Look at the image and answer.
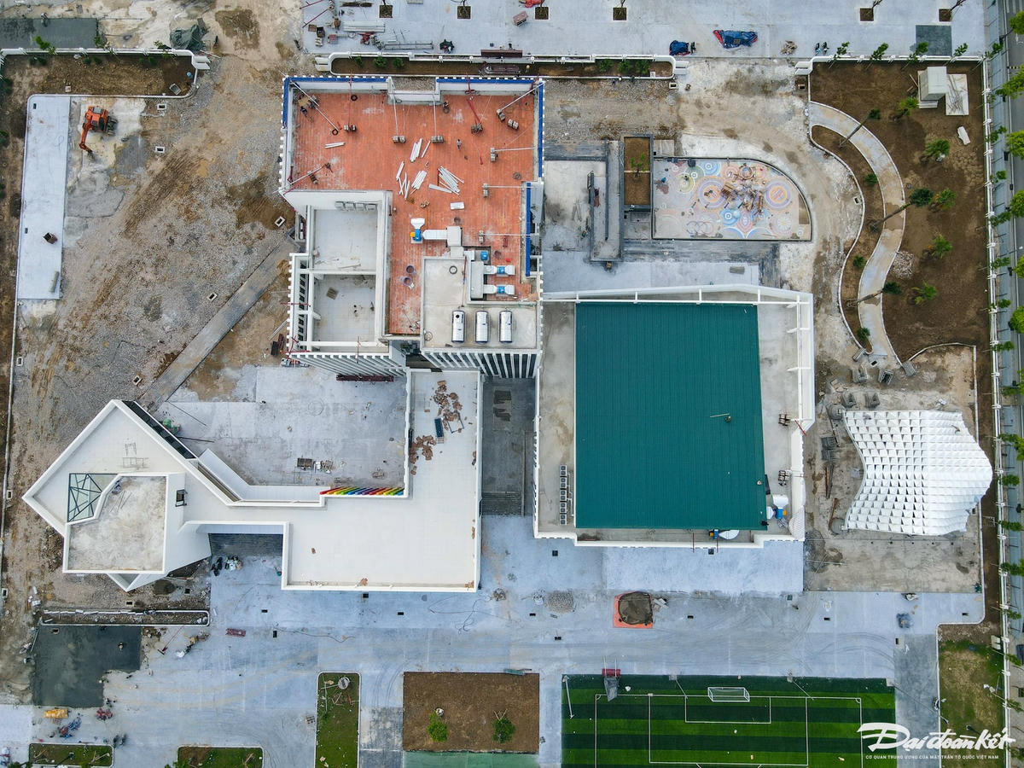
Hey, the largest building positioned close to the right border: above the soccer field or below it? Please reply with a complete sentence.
The position of the largest building positioned close to the right border is above the soccer field.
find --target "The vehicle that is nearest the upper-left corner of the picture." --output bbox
[80,106,117,159]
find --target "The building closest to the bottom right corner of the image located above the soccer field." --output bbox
[838,409,992,535]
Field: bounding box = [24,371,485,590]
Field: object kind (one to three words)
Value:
building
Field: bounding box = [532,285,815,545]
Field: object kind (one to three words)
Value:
building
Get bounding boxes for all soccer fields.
[561,675,898,768]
